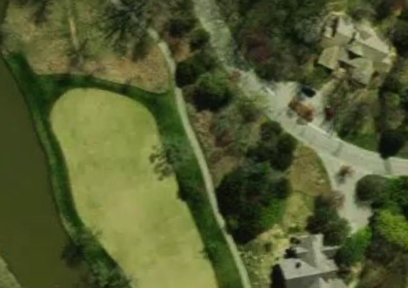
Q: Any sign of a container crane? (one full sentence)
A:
No, there is no container crane in the image.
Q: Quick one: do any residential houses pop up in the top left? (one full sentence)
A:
No, no residential house can be made out in the top left.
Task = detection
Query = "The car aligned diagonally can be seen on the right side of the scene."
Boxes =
[301,85,316,98]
